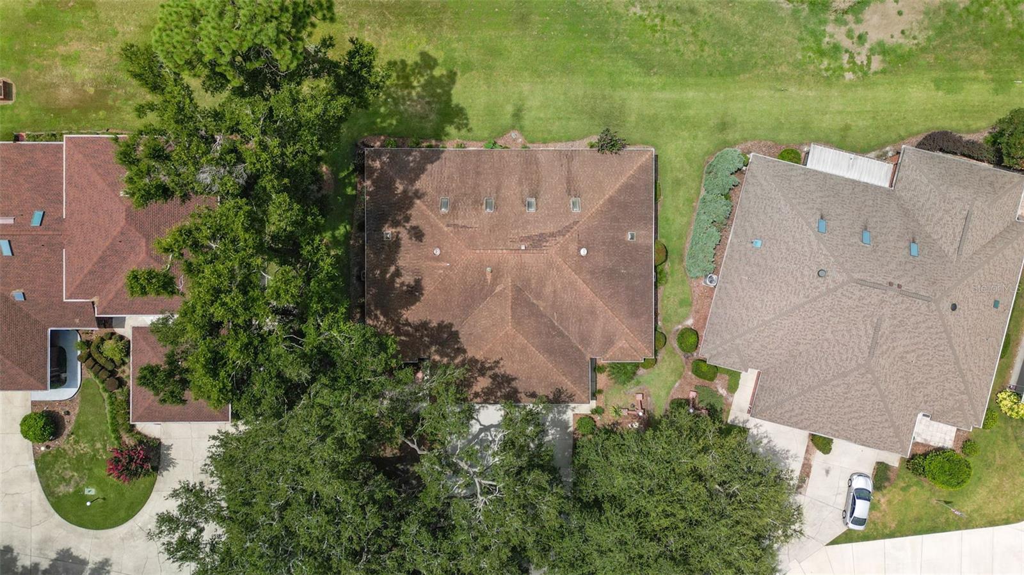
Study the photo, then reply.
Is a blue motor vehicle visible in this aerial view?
No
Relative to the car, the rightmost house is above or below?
above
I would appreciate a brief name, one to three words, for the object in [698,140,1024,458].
house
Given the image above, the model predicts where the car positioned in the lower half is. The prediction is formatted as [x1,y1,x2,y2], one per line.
[842,473,876,532]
